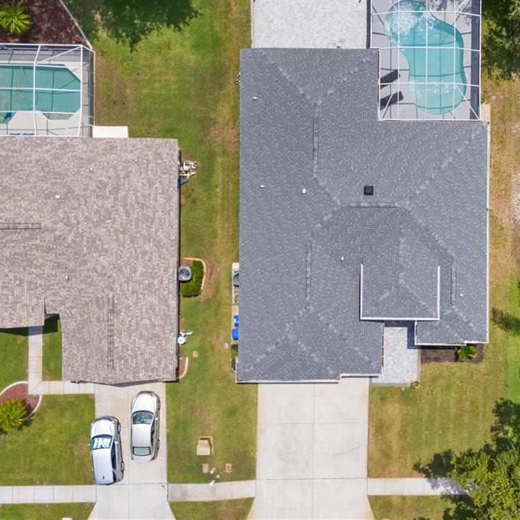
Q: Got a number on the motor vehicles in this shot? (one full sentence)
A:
In total, 2 motor vehicles can be seen.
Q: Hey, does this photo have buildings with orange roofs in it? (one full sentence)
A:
No, no building with an orange roof is visible in the scene.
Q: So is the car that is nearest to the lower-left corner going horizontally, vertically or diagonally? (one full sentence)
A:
What the image shows is the car that is nearest to the lower-left corner lying vertically.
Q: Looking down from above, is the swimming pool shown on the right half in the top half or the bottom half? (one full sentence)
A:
Seen from above, the swimming pool shown on the right half lies in the top half of the view.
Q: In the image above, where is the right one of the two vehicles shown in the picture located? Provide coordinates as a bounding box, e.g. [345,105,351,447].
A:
[127,391,161,461]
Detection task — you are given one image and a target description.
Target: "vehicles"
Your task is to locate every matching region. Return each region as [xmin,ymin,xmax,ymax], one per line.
[89,416,126,485]
[127,391,161,461]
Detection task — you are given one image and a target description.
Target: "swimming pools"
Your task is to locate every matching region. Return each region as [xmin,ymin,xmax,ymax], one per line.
[0,62,81,127]
[381,0,470,117]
